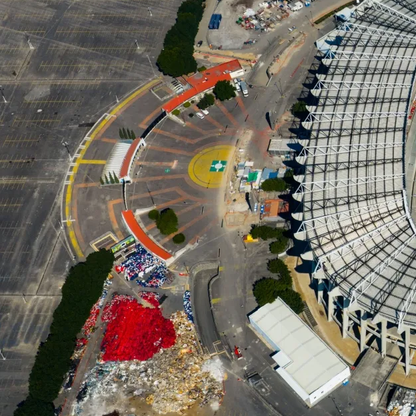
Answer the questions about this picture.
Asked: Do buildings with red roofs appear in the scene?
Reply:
Yes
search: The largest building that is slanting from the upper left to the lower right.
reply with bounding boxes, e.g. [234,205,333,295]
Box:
[248,296,351,408]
